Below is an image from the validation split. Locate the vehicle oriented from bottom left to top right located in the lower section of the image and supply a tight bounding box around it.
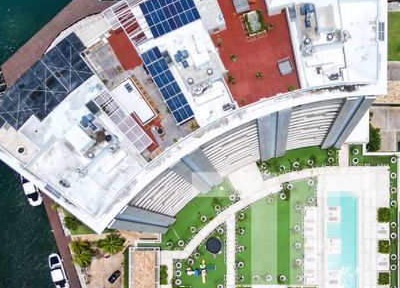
[105,268,122,284]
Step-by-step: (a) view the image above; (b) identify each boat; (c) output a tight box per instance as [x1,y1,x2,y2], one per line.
[49,253,66,288]
[24,176,44,209]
